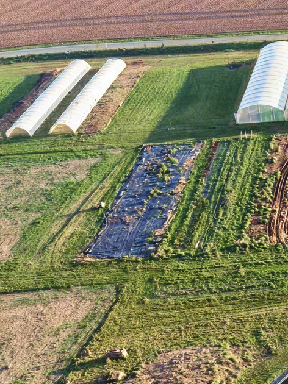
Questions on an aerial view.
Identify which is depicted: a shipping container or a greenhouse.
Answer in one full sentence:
The one in the frame is a greenhouse.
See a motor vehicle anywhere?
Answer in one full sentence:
No, the frame has no motor vehicle in it.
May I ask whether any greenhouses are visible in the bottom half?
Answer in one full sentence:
No, looking in the bottom half, there is no greenhouse.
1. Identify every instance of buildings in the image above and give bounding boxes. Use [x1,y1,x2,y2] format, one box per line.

[234,44,288,123]
[4,59,82,137]
[49,55,121,133]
